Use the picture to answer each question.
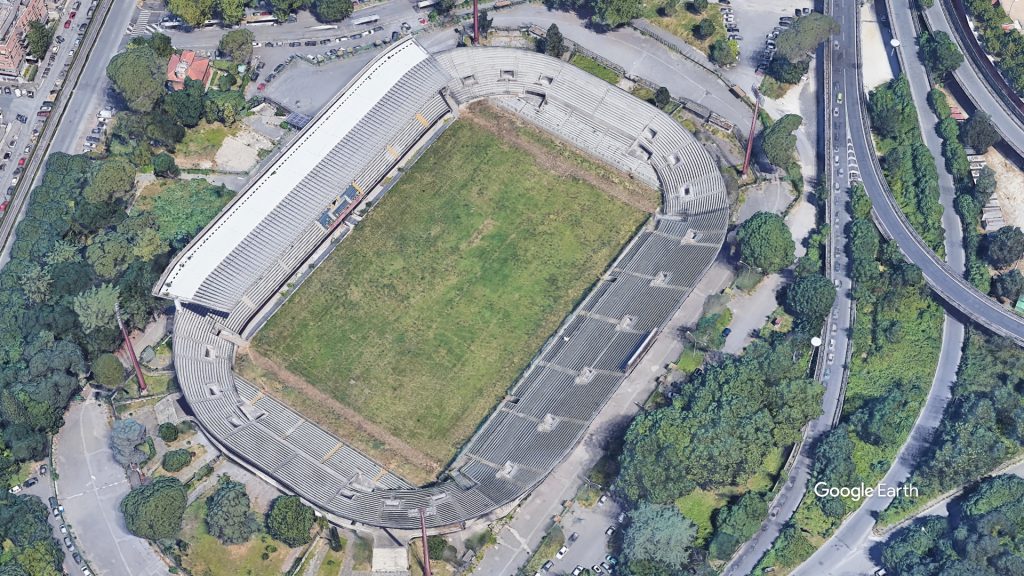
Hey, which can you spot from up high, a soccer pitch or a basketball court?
soccer pitch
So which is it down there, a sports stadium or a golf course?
sports stadium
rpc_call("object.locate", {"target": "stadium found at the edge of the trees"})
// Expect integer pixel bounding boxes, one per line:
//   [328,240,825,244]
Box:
[152,38,731,533]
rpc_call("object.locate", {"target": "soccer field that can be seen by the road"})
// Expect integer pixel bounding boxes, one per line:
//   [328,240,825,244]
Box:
[227,98,664,483]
